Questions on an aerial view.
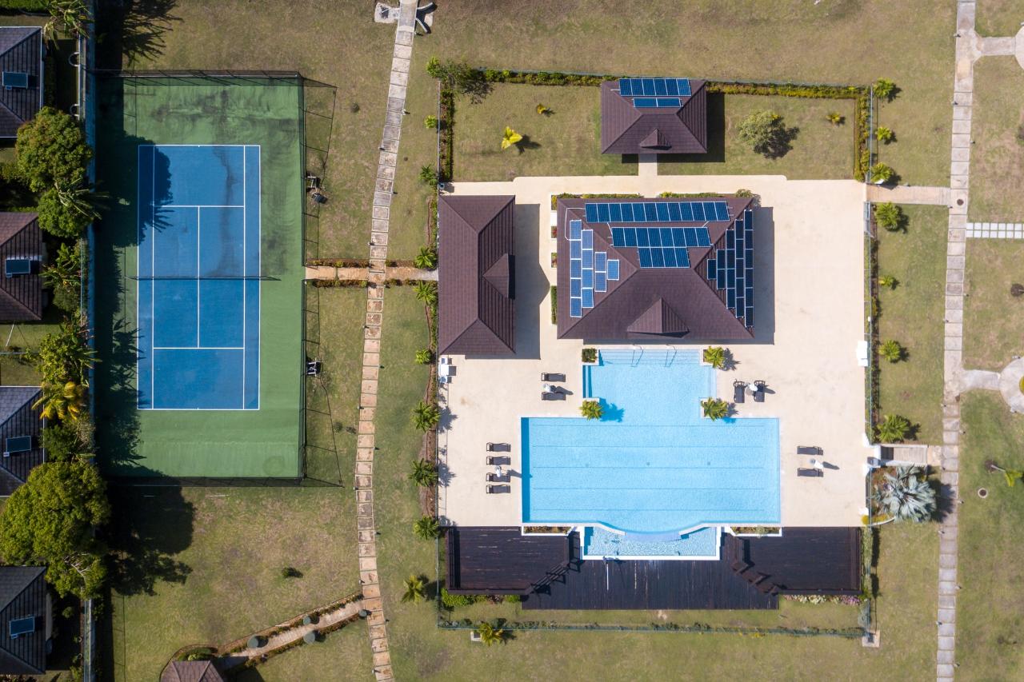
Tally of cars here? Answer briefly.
0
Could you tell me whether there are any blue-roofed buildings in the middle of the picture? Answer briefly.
No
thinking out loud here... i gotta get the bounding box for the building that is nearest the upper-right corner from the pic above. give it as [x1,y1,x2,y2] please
[601,78,707,154]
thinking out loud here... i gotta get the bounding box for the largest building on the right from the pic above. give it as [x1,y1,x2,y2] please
[557,197,755,339]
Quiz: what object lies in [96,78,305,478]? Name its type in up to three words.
tennis court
